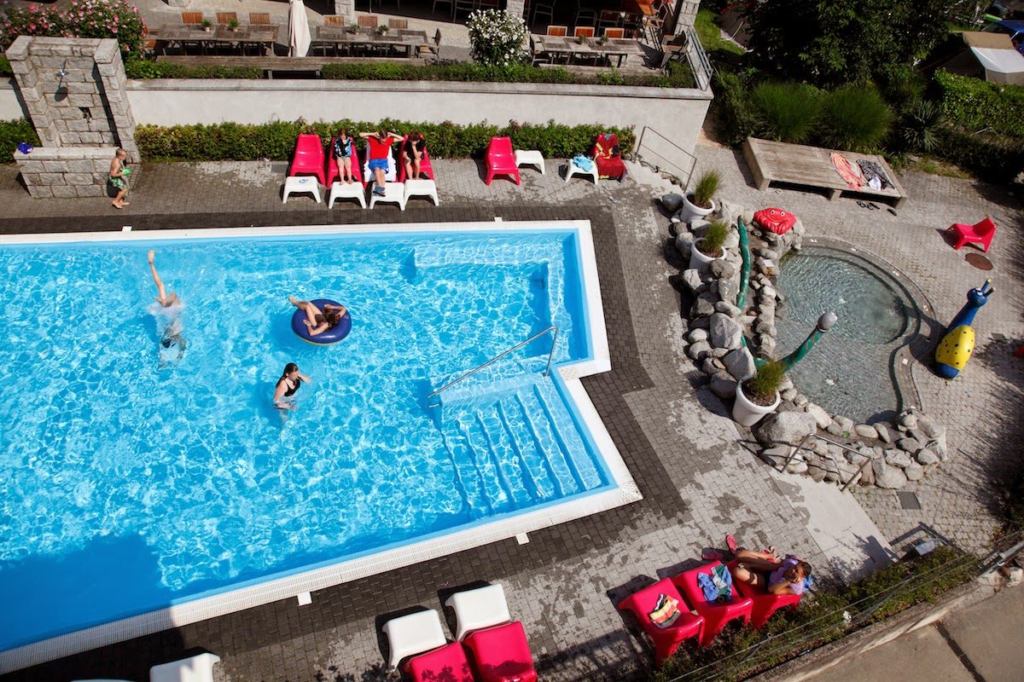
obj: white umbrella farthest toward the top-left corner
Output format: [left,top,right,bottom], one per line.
[278,0,308,56]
